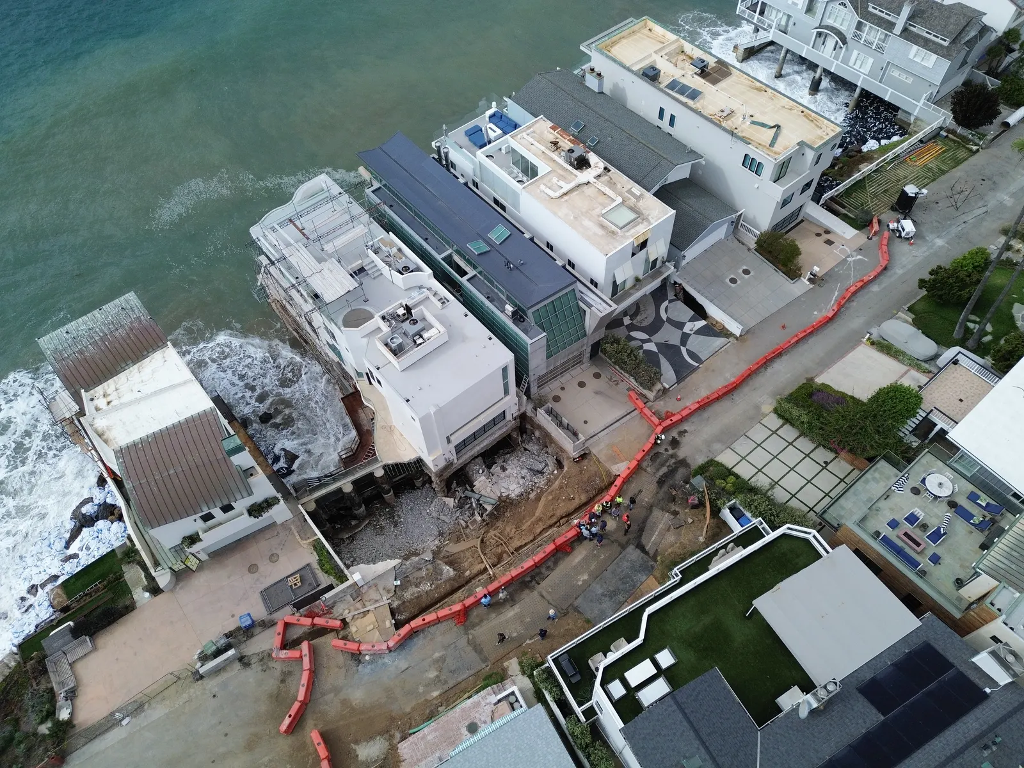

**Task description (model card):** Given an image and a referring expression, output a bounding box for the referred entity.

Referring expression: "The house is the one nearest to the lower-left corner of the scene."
[39,295,301,588]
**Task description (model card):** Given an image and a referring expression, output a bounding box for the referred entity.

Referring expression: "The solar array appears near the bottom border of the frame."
[813,641,989,768]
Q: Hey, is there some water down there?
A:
Yes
